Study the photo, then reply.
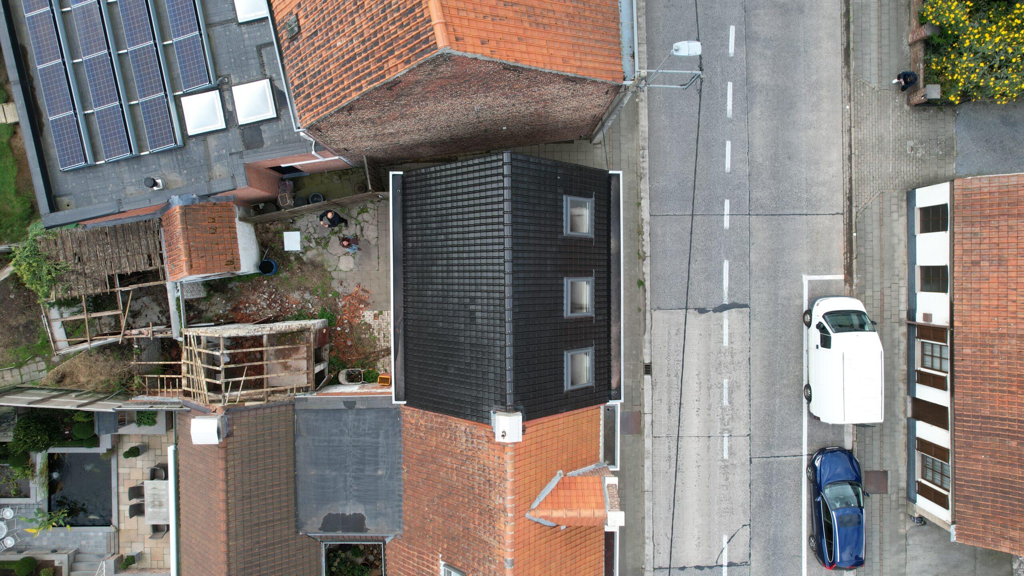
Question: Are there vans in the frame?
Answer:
Yes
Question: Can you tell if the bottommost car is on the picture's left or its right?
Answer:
right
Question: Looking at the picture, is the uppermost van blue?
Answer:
No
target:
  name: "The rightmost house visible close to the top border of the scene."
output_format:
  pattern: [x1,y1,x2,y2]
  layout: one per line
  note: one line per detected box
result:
[262,0,637,170]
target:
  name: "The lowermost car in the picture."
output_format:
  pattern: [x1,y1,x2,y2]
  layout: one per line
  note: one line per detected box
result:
[806,444,873,571]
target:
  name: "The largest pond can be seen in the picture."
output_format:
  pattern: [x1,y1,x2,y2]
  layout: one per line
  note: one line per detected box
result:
[29,444,125,532]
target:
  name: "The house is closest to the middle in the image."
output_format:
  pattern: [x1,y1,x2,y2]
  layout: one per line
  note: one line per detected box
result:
[390,147,624,427]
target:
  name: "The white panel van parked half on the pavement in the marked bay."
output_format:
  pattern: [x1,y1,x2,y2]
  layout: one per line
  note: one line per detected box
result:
[802,296,881,424]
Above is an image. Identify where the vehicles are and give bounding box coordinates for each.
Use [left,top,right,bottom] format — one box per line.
[802,296,881,424]
[806,444,873,571]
